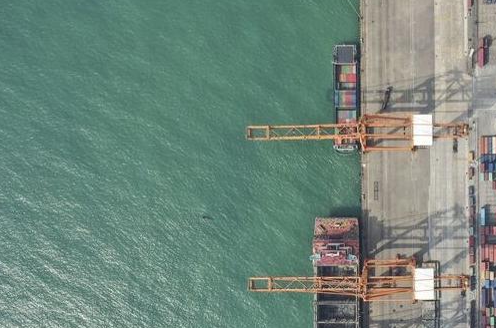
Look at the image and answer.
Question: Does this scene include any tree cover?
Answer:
No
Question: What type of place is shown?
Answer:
port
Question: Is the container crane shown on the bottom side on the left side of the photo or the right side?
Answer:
right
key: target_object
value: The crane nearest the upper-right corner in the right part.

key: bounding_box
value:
[247,112,468,156]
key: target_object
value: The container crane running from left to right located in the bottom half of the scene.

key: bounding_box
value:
[248,252,469,303]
